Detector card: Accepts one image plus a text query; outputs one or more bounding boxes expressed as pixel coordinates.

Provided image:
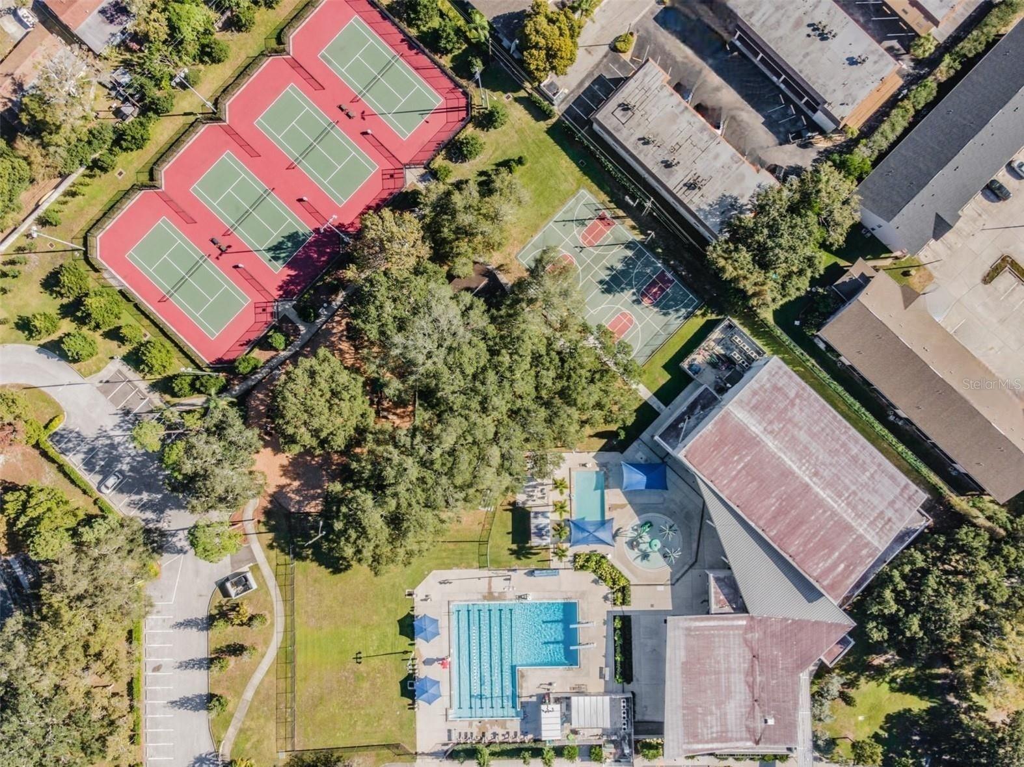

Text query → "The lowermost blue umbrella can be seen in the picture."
[415,678,442,702]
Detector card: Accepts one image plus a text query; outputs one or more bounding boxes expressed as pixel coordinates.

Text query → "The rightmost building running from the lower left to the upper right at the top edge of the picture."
[858,17,1024,259]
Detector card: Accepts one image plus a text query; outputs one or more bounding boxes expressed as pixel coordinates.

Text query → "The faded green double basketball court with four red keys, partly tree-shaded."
[518,189,704,364]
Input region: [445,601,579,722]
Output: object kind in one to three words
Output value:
swimming pool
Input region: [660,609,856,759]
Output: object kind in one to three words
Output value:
building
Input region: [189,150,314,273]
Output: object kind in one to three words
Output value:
tennis court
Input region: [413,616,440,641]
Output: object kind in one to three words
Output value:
umbrella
